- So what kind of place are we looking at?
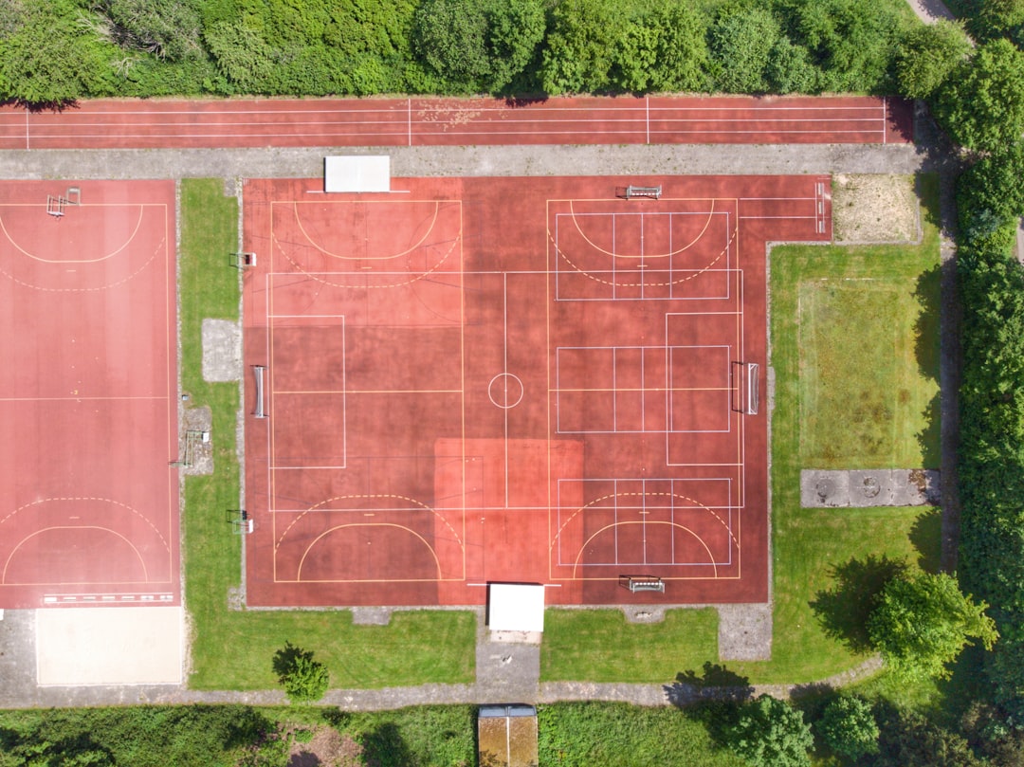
sports ground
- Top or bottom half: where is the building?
bottom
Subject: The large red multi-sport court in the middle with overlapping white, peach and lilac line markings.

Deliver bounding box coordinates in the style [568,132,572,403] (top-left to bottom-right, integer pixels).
[244,174,833,607]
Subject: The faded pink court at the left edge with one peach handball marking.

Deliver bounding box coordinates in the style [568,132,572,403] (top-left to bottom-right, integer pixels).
[0,179,180,609]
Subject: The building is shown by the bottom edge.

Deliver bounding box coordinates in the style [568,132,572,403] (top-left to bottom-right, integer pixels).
[478,705,538,767]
